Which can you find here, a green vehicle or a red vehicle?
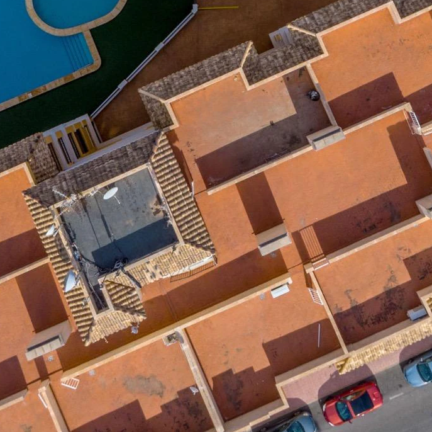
red vehicle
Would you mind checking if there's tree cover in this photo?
No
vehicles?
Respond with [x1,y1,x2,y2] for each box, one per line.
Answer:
[401,347,432,386]
[321,378,385,425]
[254,408,318,432]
